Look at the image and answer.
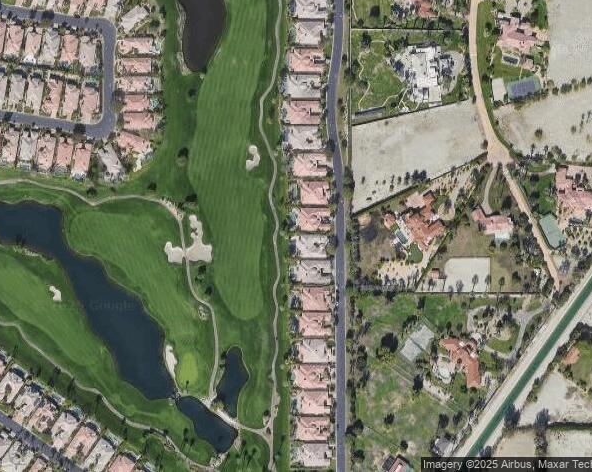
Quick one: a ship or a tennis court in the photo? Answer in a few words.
tennis court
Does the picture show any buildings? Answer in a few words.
Yes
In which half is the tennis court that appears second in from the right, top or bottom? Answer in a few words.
top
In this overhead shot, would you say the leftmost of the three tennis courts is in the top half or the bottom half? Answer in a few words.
bottom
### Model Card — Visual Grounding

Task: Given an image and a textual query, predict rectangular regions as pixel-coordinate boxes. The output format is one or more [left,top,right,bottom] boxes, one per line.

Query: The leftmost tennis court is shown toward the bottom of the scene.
[401,325,436,362]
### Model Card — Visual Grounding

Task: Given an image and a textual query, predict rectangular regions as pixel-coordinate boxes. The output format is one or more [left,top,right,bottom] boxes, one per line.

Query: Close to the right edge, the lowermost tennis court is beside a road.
[537,213,567,249]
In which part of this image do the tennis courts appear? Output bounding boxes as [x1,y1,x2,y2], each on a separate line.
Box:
[537,213,567,249]
[401,325,436,362]
[506,75,542,101]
